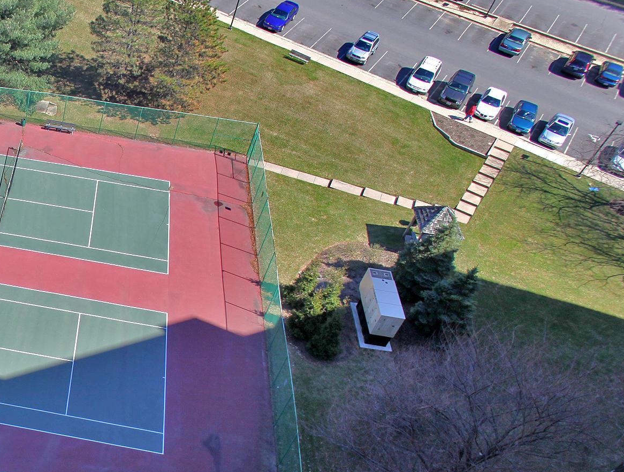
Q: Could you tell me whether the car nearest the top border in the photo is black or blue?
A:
blue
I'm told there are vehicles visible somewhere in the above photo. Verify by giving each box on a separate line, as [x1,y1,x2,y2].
[409,54,446,93]
[348,32,383,65]
[591,63,623,87]
[506,100,538,132]
[476,86,508,118]
[496,28,528,52]
[265,4,298,29]
[559,54,591,78]
[538,110,574,145]
[440,68,478,107]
